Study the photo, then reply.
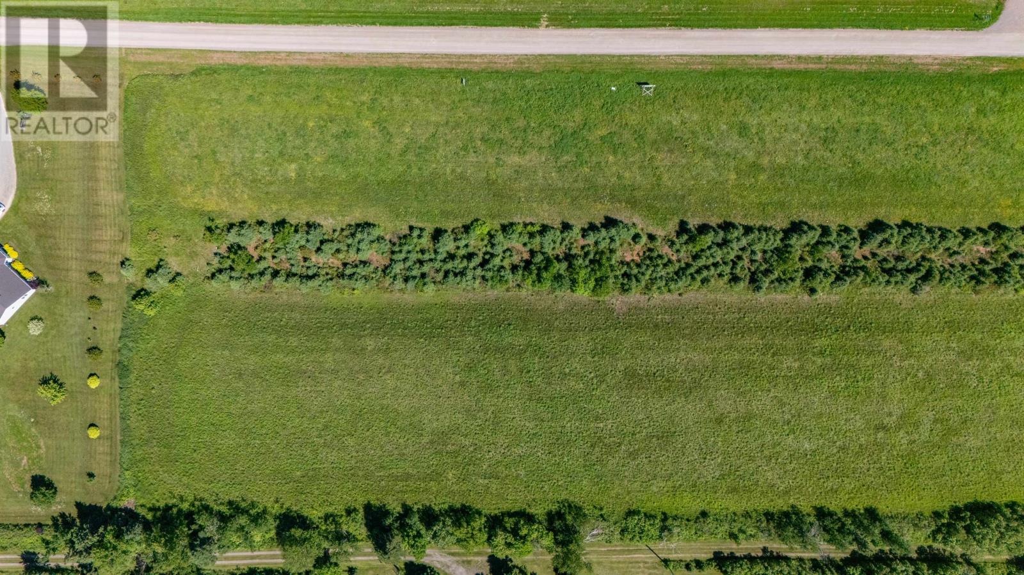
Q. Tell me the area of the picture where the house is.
left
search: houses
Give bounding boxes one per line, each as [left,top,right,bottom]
[0,246,38,326]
